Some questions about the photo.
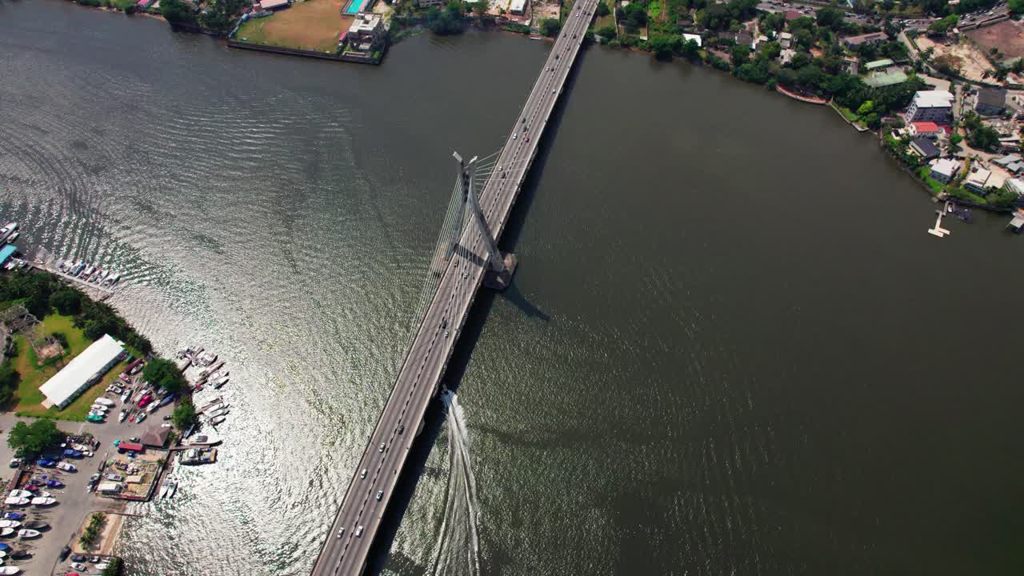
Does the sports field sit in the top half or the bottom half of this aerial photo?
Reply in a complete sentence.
The top half of the photo is where the sports field is.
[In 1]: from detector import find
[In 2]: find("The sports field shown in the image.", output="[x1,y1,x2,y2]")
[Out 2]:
[231,0,352,57]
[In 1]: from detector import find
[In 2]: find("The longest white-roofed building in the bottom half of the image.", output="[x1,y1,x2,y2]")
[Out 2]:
[41,335,128,408]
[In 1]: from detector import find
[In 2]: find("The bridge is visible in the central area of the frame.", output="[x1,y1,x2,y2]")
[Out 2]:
[311,0,598,576]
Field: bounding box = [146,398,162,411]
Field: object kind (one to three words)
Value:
boat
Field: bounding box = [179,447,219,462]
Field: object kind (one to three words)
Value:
ship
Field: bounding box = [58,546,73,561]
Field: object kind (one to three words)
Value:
vehicle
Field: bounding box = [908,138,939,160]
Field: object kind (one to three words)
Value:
house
